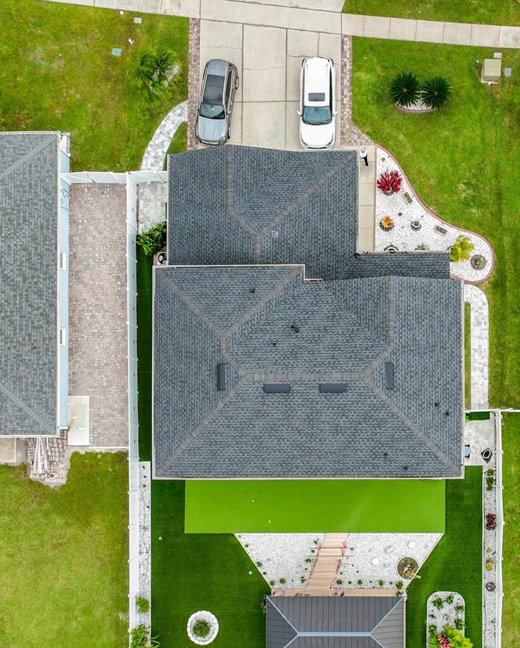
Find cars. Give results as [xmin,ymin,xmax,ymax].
[295,57,341,146]
[193,57,240,147]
